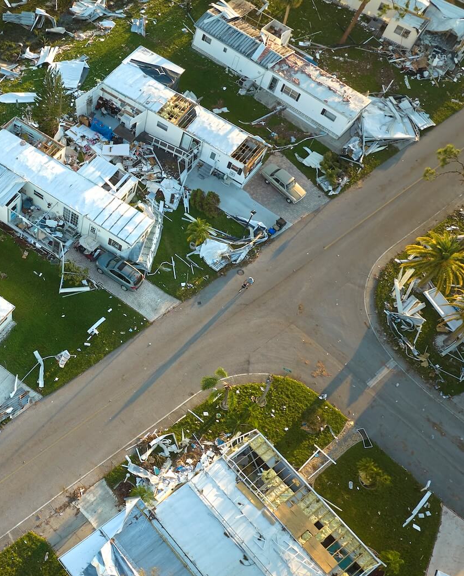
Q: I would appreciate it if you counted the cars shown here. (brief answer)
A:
2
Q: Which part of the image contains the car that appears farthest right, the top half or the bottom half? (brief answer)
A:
top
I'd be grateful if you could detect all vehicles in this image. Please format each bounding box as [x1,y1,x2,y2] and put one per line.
[90,251,147,292]
[78,232,106,259]
[258,164,308,206]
